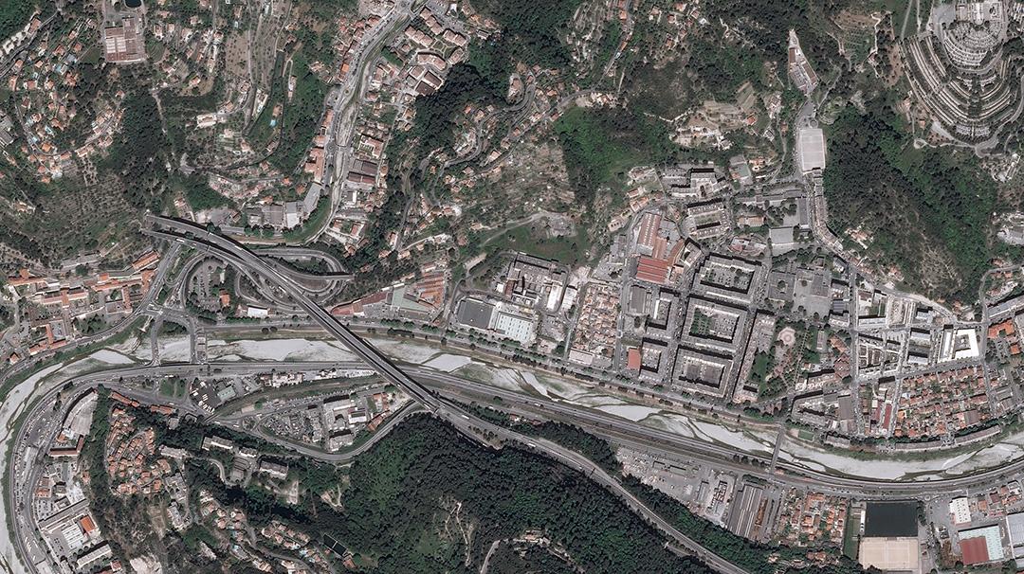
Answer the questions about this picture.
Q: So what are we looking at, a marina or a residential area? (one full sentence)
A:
This looks like a residential area.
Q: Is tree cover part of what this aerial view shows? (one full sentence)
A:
Yes, some tree cover is visible.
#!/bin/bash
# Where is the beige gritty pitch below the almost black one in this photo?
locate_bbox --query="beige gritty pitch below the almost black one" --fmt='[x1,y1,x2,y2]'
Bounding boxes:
[859,539,918,568]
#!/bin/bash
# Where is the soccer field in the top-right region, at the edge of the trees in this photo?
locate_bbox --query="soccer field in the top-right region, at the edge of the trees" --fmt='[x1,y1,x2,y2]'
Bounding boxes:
[800,129,825,170]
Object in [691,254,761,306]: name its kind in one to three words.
building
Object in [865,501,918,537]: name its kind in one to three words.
soccer field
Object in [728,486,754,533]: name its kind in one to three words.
shed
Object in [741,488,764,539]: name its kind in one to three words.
shed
